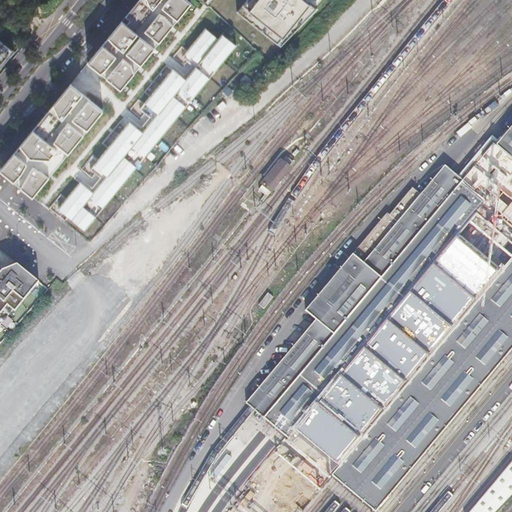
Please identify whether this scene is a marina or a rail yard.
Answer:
rail yard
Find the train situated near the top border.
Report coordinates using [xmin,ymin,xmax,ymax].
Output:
[292,0,452,196]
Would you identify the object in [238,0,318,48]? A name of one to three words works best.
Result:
building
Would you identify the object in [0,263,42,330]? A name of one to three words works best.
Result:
building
